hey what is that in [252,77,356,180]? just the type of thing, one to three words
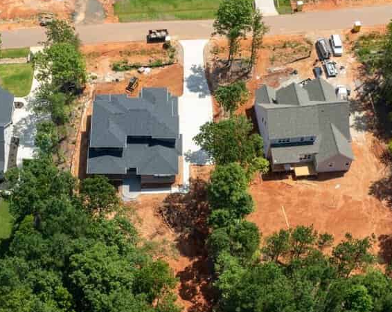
house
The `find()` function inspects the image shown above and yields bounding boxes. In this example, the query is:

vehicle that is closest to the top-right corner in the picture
[330,29,345,54]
